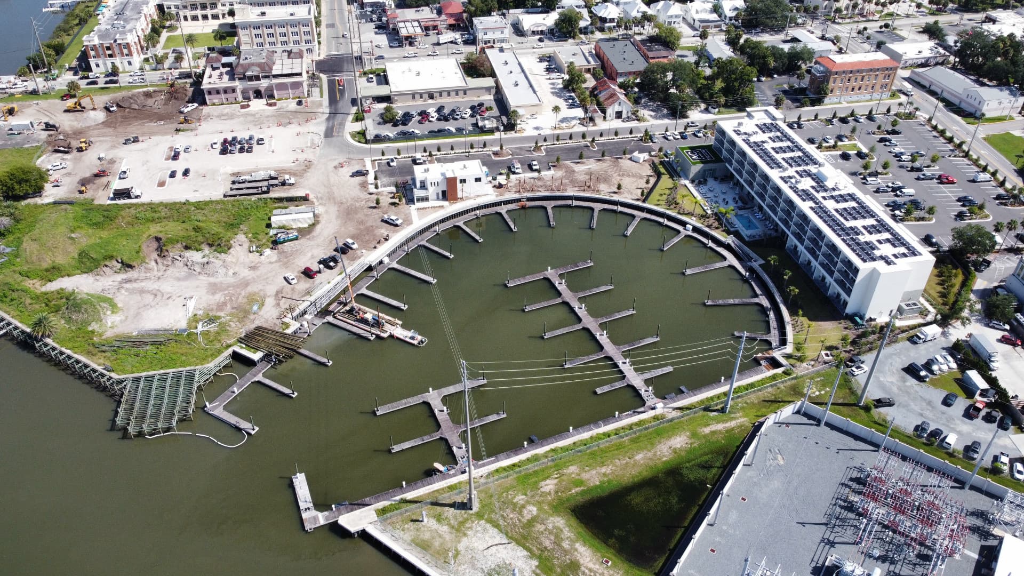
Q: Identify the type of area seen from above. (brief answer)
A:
port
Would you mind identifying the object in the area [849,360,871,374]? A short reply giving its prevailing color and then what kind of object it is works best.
white car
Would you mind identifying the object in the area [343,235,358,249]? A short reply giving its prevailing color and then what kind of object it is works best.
white car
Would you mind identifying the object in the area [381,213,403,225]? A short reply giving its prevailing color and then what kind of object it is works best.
white vehicle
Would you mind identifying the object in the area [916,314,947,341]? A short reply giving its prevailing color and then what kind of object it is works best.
white truck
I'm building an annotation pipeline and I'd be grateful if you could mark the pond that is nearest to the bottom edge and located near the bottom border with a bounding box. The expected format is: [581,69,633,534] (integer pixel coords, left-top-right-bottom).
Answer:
[579,459,736,571]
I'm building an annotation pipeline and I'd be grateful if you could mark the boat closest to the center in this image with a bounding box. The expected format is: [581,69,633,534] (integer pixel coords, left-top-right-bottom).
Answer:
[392,326,427,343]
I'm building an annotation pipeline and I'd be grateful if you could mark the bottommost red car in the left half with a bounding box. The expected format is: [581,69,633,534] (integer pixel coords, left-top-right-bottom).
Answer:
[302,264,317,277]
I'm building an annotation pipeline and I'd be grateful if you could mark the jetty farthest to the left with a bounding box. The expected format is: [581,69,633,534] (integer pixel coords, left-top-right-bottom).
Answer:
[203,360,298,436]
